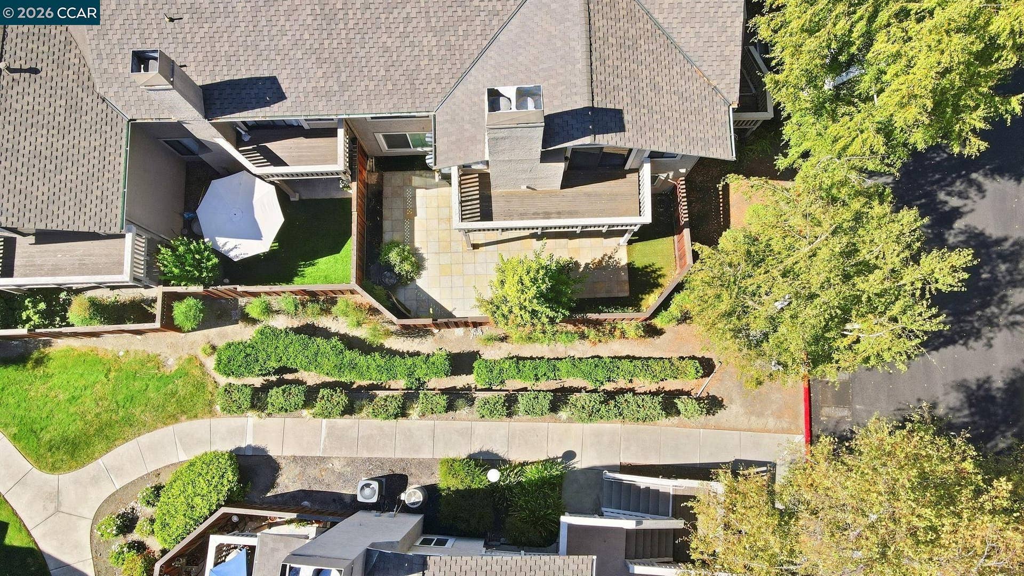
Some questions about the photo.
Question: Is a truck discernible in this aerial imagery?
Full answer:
No, there is no truck in the image.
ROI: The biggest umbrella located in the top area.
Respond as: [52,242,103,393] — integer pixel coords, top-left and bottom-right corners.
[196,171,285,261]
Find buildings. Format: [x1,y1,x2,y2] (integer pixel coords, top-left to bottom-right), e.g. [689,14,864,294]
[93,0,771,250]
[205,472,733,576]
